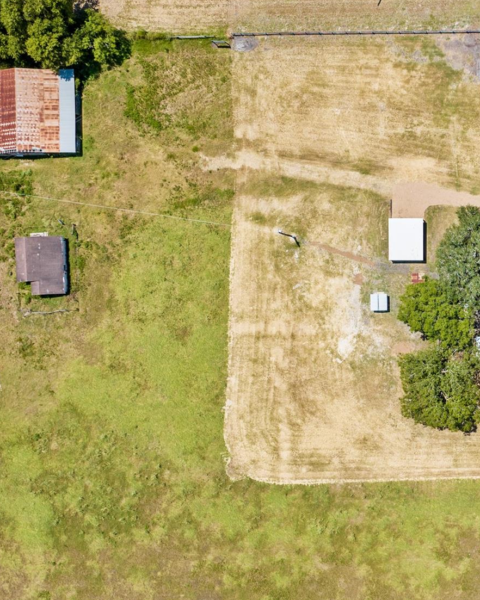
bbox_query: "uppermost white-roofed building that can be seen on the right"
[389,218,426,261]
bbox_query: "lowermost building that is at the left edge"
[15,236,73,295]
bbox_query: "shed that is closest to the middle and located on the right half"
[370,293,390,310]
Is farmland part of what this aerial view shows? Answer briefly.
Yes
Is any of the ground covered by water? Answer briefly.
No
